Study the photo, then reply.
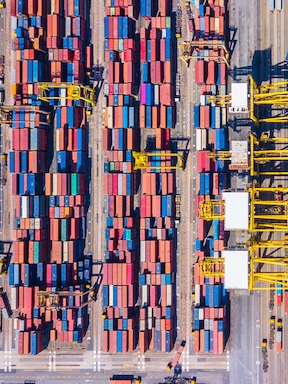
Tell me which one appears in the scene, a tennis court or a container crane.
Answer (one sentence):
Looking from above, you can make out a container crane.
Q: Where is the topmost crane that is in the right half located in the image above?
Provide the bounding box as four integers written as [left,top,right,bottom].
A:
[177,41,227,68]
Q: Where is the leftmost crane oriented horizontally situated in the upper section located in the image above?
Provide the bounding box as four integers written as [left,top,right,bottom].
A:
[0,105,52,128]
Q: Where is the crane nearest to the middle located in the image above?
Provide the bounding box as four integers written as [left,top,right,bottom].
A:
[133,152,185,171]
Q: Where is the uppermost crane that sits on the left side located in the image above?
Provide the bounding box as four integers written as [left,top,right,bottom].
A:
[36,81,94,105]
